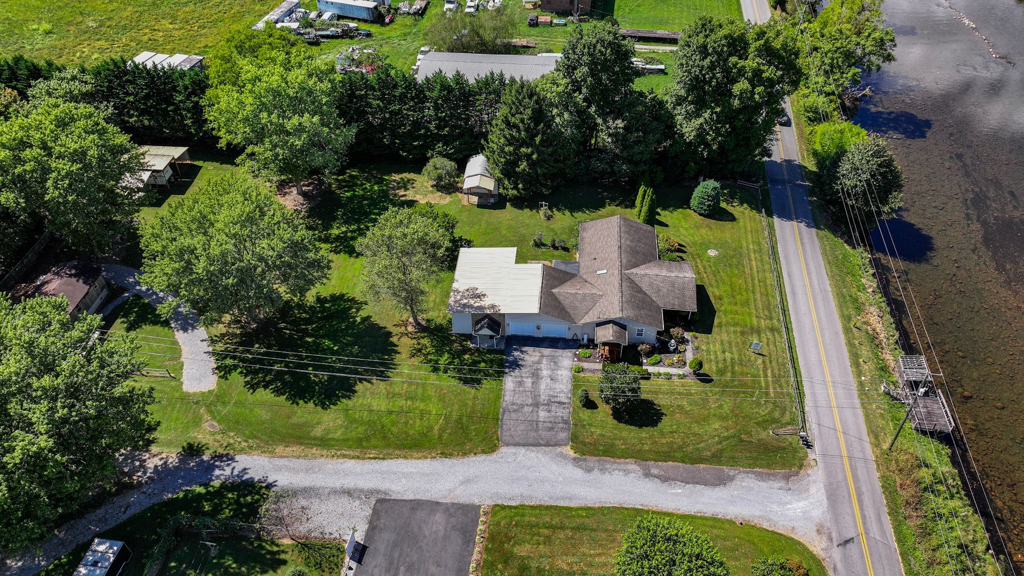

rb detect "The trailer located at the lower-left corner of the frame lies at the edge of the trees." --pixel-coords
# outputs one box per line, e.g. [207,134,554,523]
[75,536,125,576]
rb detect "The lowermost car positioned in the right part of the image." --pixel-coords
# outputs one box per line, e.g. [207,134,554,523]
[778,107,792,124]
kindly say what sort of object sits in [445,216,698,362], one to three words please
house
